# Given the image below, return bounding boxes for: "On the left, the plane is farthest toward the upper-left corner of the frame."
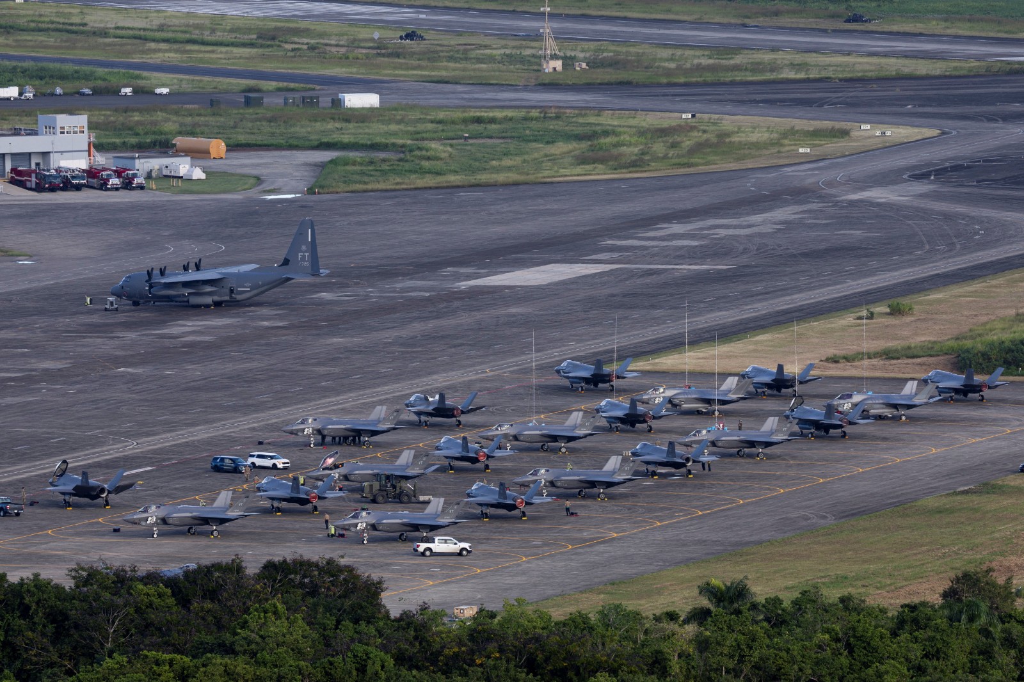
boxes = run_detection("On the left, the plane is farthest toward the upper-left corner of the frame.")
[110,219,336,307]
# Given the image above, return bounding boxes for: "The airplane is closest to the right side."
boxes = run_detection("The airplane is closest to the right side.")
[924,365,1011,401]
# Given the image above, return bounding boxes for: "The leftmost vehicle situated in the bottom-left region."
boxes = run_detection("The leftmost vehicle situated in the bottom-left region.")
[0,495,24,515]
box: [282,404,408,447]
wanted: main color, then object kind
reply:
gray airplane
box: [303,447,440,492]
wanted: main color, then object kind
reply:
gray airplane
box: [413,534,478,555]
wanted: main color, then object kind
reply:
white truck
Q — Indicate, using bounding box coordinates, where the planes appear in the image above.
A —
[431,432,517,471]
[924,365,1011,401]
[554,355,641,391]
[677,415,806,458]
[480,409,609,452]
[462,477,555,519]
[515,453,648,499]
[829,379,945,420]
[120,489,261,538]
[250,472,347,513]
[596,394,677,432]
[38,456,137,507]
[282,404,408,447]
[332,494,475,543]
[736,360,823,396]
[110,219,336,307]
[783,391,872,438]
[403,389,487,427]
[624,438,720,477]
[303,447,440,492]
